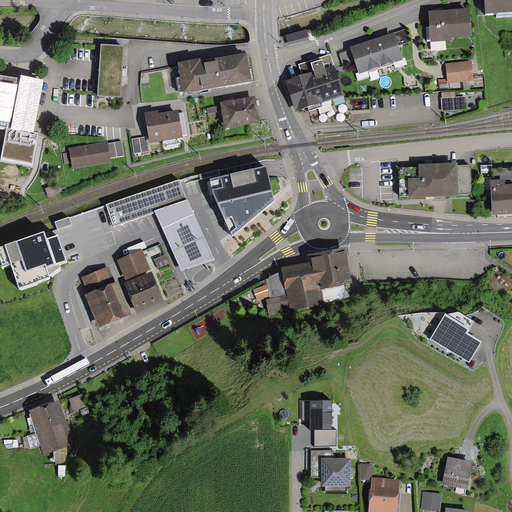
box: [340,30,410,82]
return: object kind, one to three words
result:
house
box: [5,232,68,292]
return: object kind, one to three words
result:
building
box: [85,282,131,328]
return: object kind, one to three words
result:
house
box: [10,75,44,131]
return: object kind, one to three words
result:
building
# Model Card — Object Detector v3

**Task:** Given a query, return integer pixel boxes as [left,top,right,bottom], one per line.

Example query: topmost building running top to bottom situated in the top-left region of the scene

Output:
[98,44,124,98]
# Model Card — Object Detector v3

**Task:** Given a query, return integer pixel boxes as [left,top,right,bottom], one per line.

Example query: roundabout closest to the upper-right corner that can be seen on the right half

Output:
[294,197,353,250]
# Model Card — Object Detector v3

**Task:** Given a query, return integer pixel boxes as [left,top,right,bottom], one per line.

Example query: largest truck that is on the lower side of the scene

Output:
[46,356,92,385]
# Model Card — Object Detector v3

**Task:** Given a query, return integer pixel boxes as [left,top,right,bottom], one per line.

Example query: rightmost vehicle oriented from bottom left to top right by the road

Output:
[280,218,294,234]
